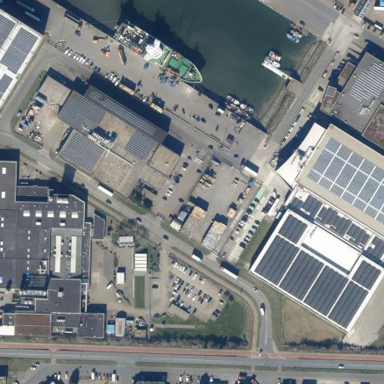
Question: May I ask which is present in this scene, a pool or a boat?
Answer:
boat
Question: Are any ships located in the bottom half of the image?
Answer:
No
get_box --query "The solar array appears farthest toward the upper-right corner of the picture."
[350,63,384,101]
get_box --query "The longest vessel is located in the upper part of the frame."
[115,20,203,80]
